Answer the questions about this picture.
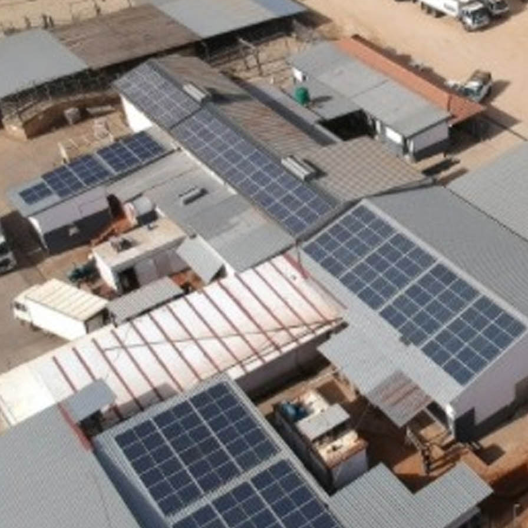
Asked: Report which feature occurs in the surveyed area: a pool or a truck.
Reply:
truck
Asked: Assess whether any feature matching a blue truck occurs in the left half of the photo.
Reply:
No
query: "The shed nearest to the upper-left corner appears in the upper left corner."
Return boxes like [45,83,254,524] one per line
[0,24,91,113]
